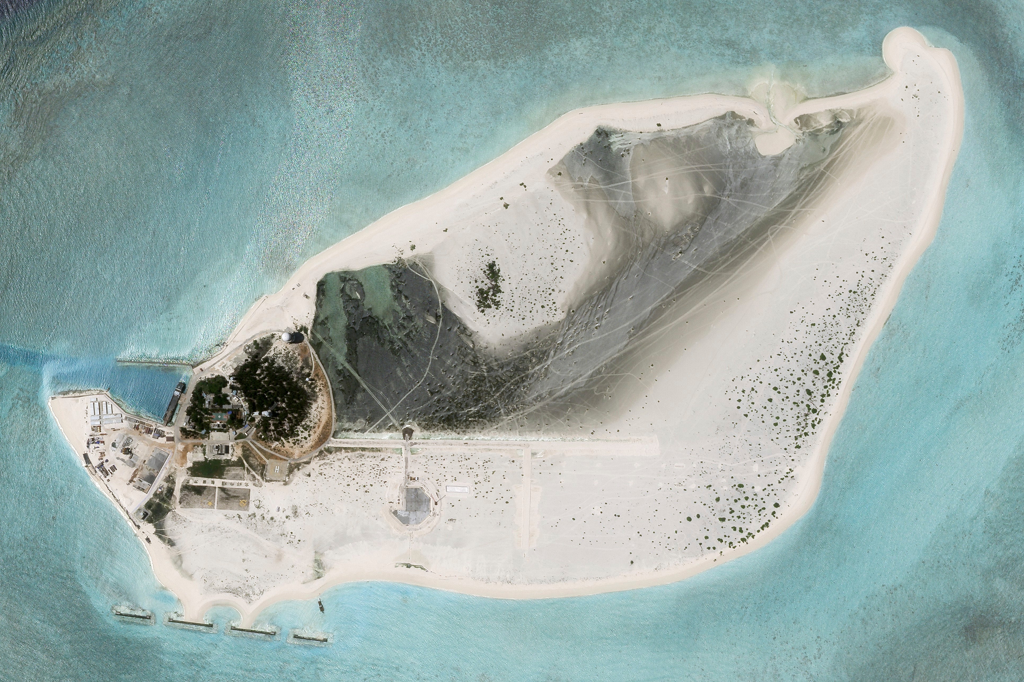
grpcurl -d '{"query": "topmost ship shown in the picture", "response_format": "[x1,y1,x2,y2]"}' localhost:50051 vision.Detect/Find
[162,382,184,427]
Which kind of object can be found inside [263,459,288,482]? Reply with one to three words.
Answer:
helipad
